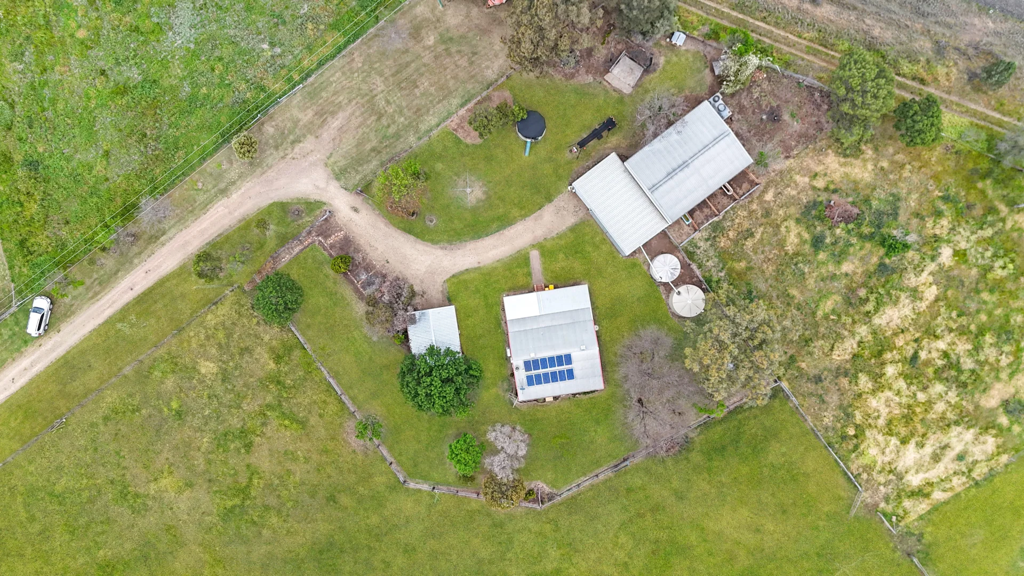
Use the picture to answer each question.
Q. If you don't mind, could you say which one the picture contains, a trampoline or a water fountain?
trampoline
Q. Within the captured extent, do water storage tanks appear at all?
Yes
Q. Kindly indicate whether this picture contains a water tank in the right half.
Yes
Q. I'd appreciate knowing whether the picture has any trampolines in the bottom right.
No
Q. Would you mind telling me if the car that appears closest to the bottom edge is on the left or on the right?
left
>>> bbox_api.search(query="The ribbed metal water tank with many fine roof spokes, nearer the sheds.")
[649,253,681,283]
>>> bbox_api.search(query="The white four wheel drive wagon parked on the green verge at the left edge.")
[26,296,53,338]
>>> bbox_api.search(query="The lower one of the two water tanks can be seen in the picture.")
[669,284,706,317]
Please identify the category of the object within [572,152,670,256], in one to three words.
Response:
shed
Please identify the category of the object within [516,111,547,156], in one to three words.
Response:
trampoline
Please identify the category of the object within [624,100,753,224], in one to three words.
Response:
barn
